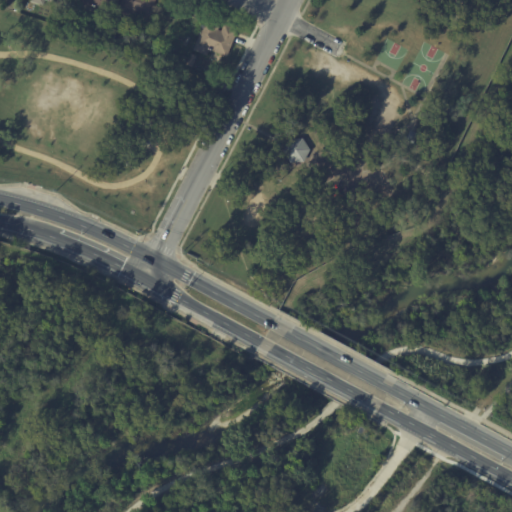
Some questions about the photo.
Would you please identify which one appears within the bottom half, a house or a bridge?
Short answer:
bridge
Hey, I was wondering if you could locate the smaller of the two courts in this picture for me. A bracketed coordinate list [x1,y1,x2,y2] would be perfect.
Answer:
[377,38,408,70]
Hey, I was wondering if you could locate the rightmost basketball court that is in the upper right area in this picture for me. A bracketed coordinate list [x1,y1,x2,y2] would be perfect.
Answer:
[404,42,445,94]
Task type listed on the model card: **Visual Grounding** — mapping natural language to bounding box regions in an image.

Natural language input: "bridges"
[250,312,398,414]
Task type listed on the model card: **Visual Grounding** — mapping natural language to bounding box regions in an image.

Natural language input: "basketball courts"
[404,42,445,94]
[377,38,408,70]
